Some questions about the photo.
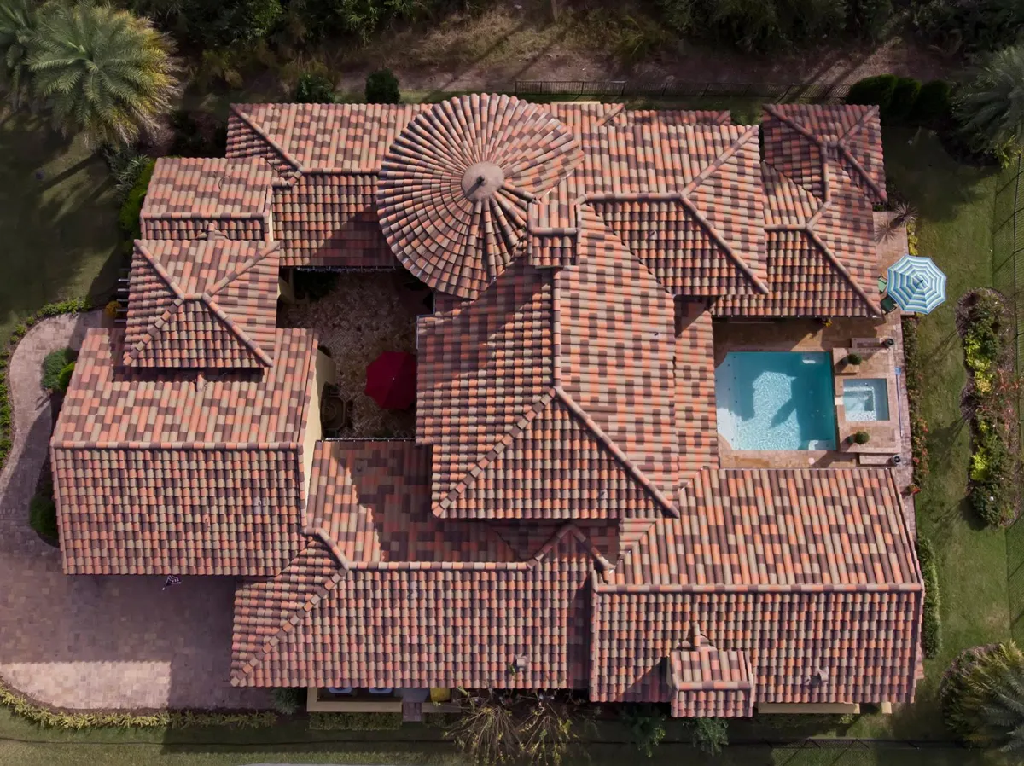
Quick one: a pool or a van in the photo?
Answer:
pool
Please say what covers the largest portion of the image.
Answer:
buildings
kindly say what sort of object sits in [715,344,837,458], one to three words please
swimming pool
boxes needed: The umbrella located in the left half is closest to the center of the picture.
[366,354,412,409]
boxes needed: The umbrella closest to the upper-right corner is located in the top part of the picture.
[881,258,942,313]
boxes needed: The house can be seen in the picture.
[48,94,926,718]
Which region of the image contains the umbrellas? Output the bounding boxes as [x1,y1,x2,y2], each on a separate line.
[881,258,942,313]
[366,354,412,409]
